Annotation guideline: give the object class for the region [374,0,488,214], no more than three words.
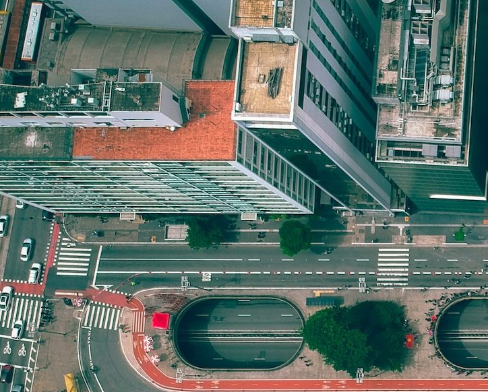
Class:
building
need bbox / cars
[8,313,32,345]
[13,381,28,392]
[26,259,47,289]
[0,282,19,315]
[17,233,39,264]
[9,201,28,221]
[1,358,19,385]
[0,212,14,243]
